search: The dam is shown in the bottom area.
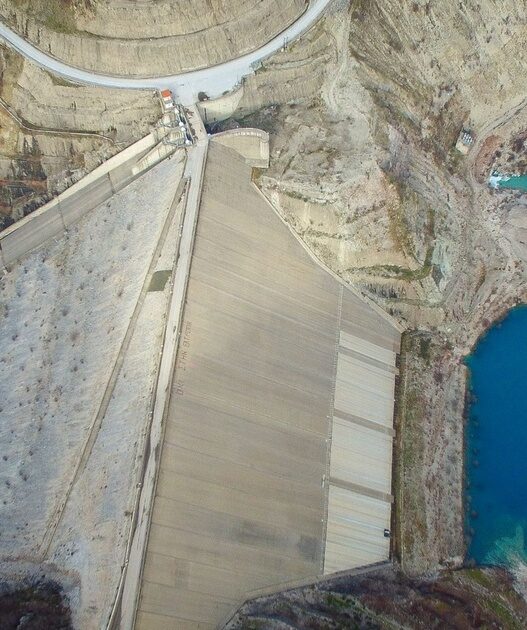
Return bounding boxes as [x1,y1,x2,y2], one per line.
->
[0,138,406,630]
